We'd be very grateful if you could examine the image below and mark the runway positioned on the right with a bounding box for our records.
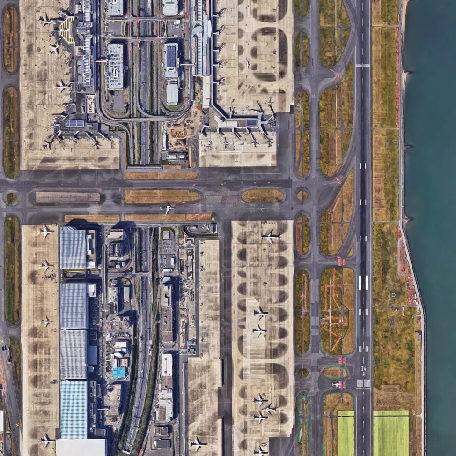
[356,0,372,456]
